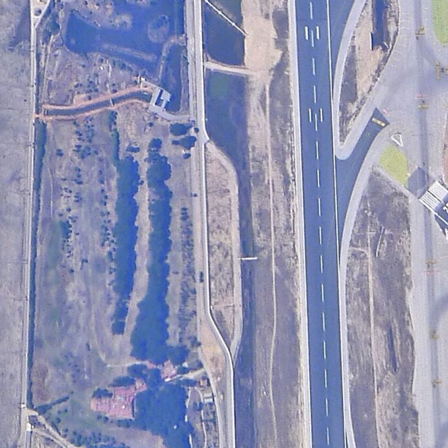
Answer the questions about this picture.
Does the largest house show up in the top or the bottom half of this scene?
bottom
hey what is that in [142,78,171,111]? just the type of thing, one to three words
building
